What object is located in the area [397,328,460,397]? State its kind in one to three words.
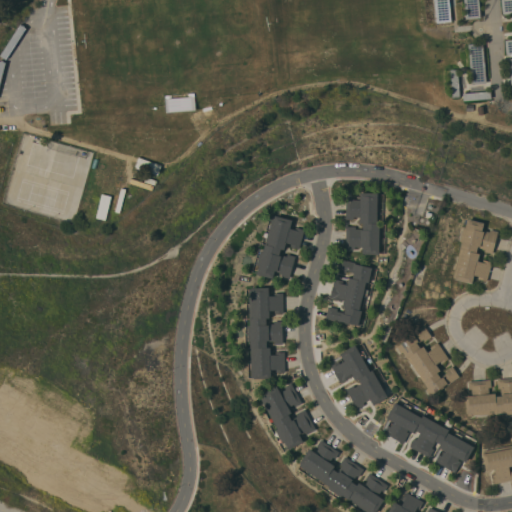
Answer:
house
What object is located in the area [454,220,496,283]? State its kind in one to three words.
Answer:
house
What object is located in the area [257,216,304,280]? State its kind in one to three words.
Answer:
building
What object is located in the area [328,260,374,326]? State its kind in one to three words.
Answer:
building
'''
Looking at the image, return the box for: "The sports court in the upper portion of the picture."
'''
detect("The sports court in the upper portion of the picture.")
[6,134,94,219]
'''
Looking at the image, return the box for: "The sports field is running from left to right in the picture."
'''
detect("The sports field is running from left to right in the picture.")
[86,0,268,75]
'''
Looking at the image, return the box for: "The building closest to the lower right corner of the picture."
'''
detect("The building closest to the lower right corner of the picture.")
[484,450,512,486]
